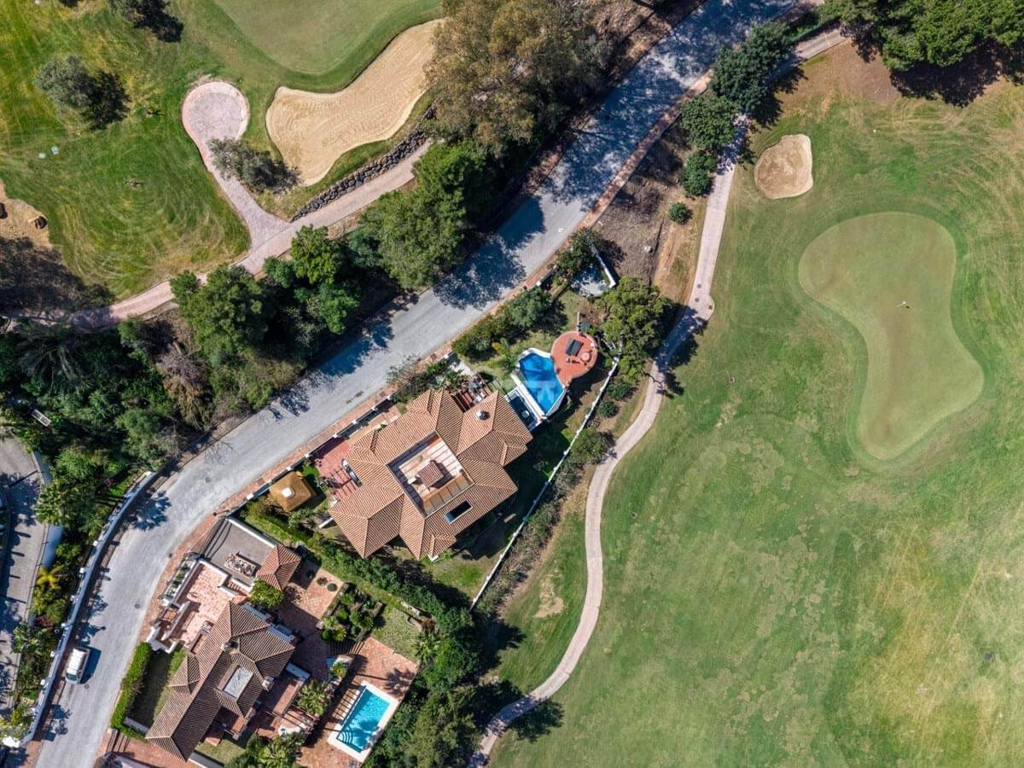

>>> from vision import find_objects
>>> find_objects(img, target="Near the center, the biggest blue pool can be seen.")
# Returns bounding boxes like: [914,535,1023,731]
[507,348,569,424]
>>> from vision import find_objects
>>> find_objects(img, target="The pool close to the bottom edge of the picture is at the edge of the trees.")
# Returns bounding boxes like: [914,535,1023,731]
[328,680,399,762]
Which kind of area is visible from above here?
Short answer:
golf course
